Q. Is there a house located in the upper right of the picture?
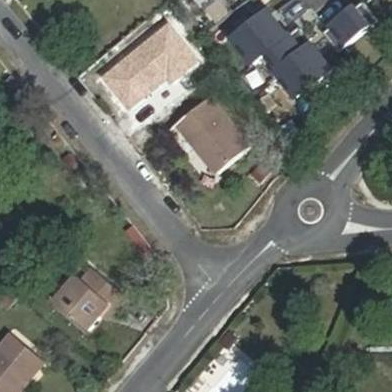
Yes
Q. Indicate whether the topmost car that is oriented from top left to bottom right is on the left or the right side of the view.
left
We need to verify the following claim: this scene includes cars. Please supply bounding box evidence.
[282,2,304,20]
[135,104,156,122]
[68,78,88,98]
[136,162,154,182]
[163,197,180,214]
[2,19,22,39]
[62,121,80,139]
